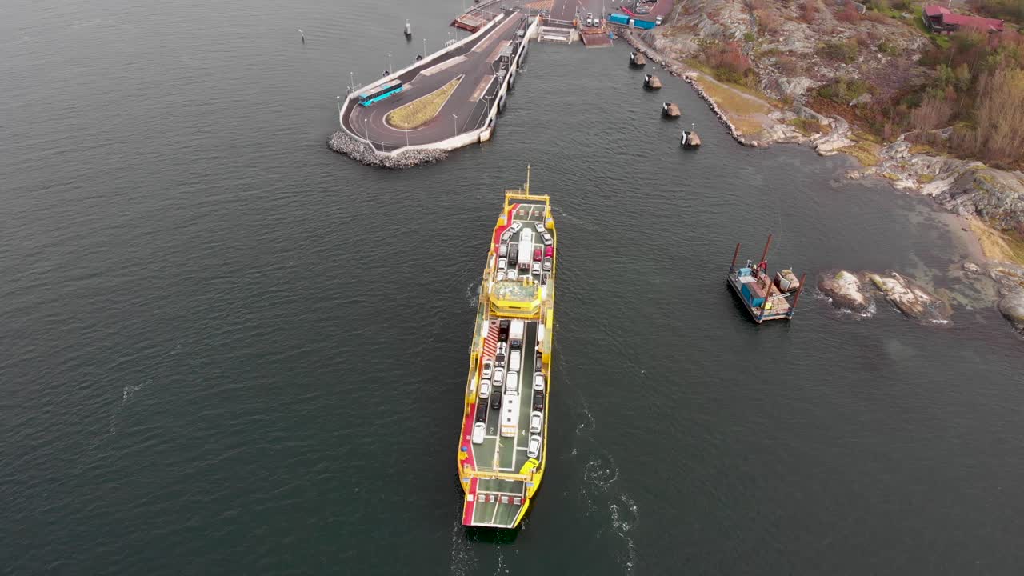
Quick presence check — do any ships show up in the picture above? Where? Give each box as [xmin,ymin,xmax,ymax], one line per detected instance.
[456,164,556,530]
[725,233,823,326]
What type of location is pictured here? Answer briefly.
port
